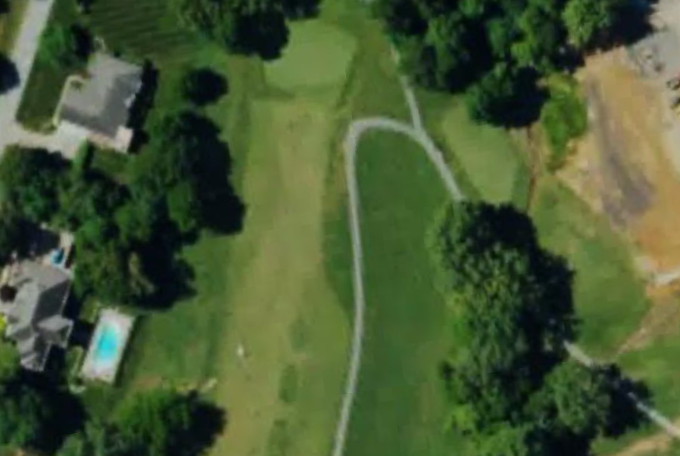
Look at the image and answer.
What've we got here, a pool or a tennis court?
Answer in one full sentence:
Visible in the photo is a pool.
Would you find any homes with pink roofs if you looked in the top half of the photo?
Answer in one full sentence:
No, I can find no home with a pink roof in the top half of the photo.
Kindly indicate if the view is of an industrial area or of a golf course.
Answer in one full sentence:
The area seen from above is a golf course.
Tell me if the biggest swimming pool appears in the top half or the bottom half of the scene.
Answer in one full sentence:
You can find the biggest swimming pool in the bottom half.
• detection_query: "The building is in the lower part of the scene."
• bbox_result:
[1,259,75,374]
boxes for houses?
[1,259,75,374]
[59,53,147,137]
